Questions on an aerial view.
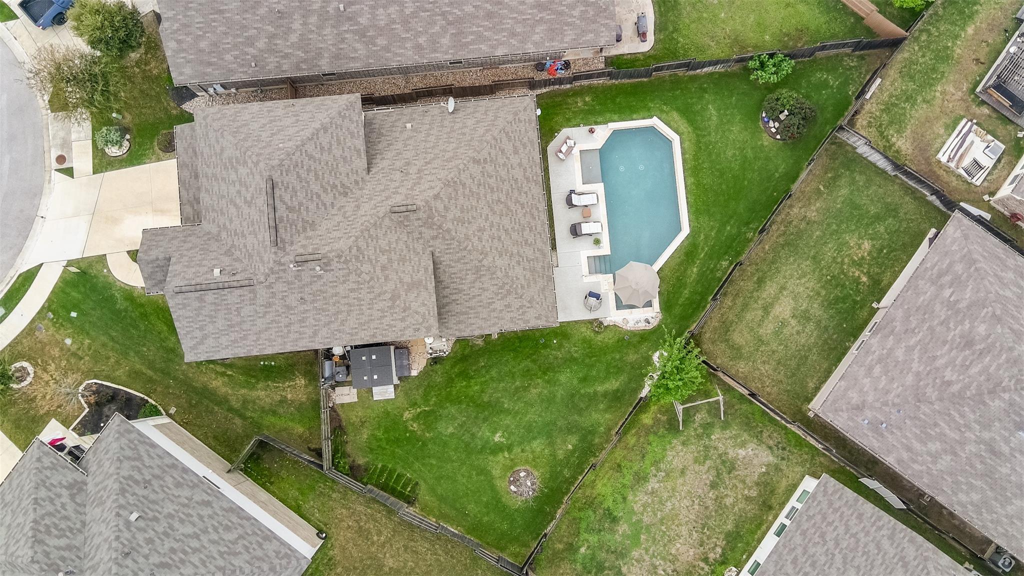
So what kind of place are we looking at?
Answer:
residential area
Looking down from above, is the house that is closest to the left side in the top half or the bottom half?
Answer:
bottom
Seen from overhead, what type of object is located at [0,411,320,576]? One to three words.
house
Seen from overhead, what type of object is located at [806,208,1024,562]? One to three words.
house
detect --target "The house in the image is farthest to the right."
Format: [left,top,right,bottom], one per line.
[987,157,1024,228]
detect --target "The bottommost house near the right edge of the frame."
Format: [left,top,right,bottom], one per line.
[739,473,976,576]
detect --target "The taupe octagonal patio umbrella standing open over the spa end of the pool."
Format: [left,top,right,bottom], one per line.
[614,261,660,307]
